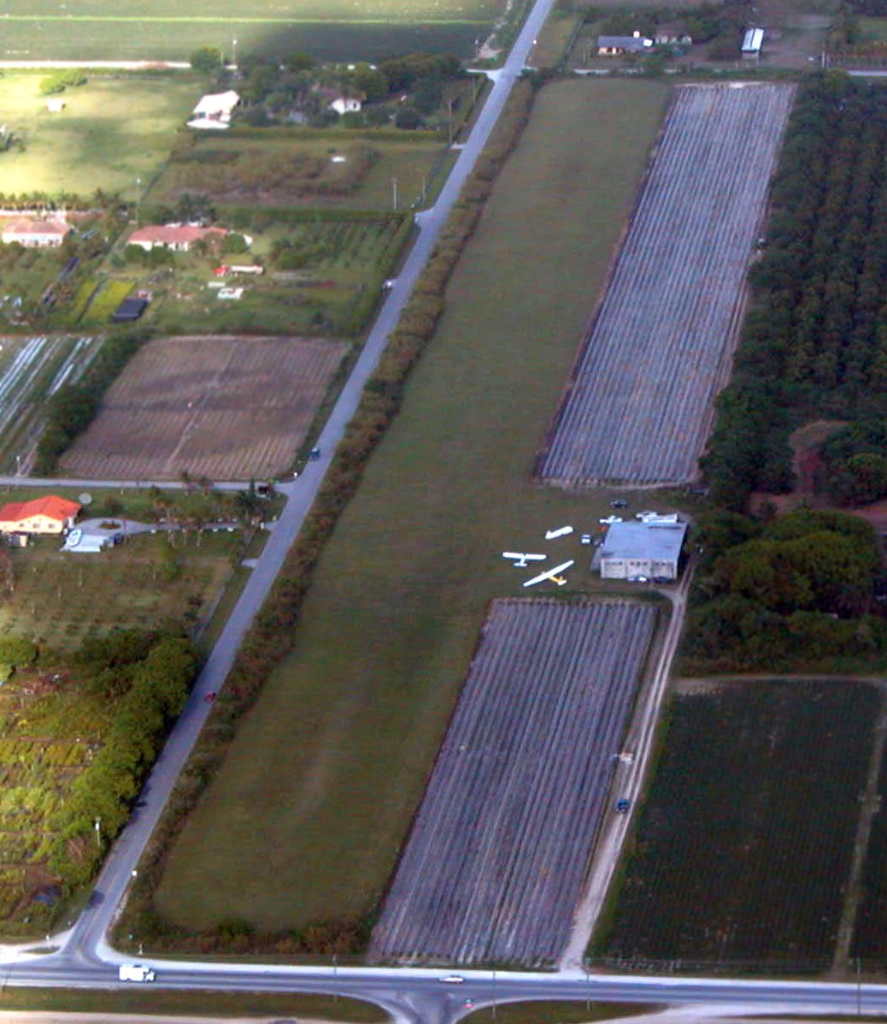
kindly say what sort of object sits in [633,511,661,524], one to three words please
vehicle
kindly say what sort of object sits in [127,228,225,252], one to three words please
house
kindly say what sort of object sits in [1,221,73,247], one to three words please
house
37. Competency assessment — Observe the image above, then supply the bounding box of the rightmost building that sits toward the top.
[740,30,764,58]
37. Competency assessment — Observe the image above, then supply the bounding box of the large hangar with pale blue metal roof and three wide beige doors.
[584,526,689,580]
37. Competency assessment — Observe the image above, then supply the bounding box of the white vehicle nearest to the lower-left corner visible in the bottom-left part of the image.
[118,962,156,982]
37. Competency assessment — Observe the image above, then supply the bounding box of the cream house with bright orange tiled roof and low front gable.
[0,495,87,536]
